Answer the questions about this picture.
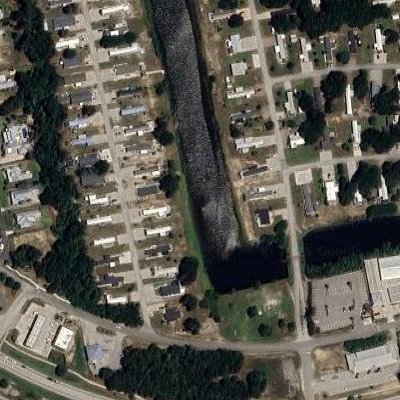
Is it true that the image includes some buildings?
Yes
